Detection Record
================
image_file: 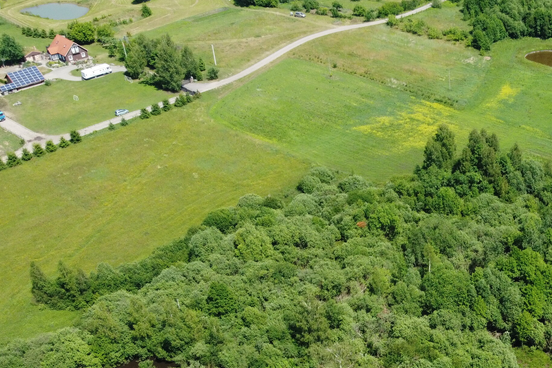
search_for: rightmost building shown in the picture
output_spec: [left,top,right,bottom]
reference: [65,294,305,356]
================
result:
[41,32,85,62]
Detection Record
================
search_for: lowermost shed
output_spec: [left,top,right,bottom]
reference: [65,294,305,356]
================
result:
[0,66,47,98]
